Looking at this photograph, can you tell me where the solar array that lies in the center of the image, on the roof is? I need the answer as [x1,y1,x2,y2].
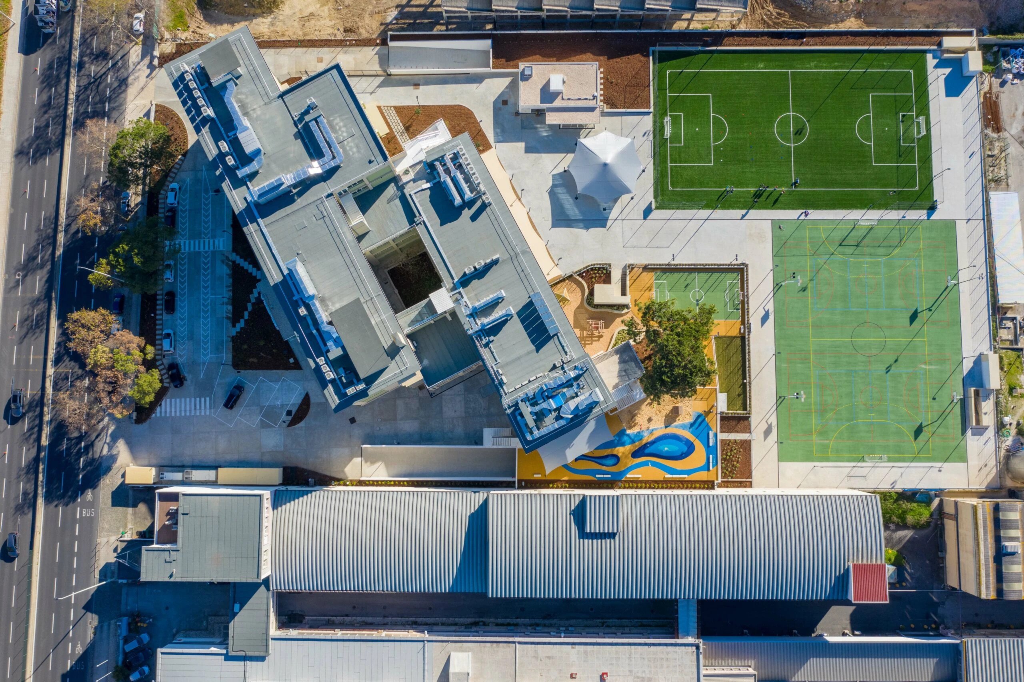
[530,292,559,337]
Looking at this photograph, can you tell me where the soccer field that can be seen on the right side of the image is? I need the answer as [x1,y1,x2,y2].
[653,50,934,210]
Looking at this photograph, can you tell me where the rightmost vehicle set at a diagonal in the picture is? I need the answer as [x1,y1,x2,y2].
[223,384,244,410]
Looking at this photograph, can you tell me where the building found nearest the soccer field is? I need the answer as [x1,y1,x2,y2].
[939,36,976,50]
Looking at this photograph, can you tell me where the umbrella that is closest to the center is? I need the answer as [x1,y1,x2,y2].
[553,287,570,302]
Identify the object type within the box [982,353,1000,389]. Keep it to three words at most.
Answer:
building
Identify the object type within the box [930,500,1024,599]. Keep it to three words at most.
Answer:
shed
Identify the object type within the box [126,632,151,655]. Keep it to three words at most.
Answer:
vehicle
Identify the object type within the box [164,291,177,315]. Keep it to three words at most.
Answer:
vehicle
